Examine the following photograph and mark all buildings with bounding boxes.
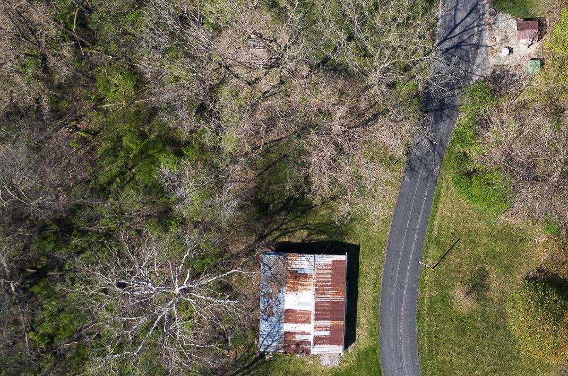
[516,17,538,38]
[258,253,350,357]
